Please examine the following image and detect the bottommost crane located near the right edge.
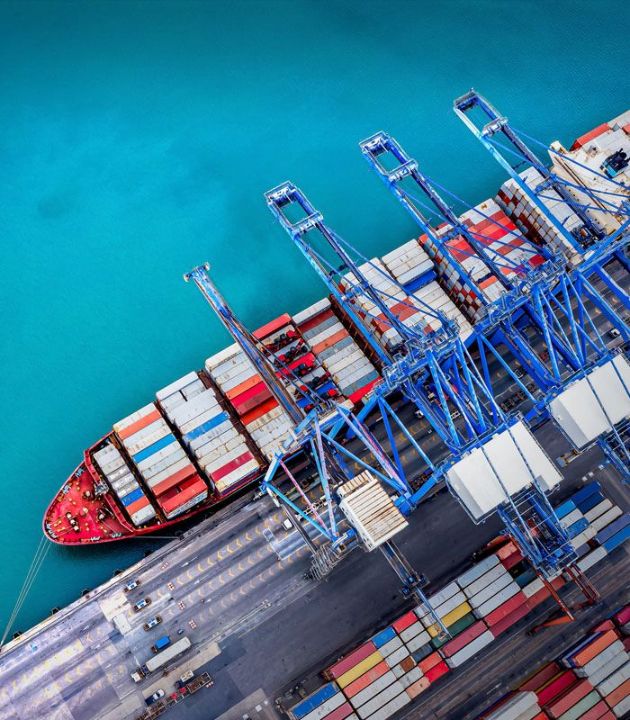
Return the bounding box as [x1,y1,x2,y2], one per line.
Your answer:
[472,530,603,637]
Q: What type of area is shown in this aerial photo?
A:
port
